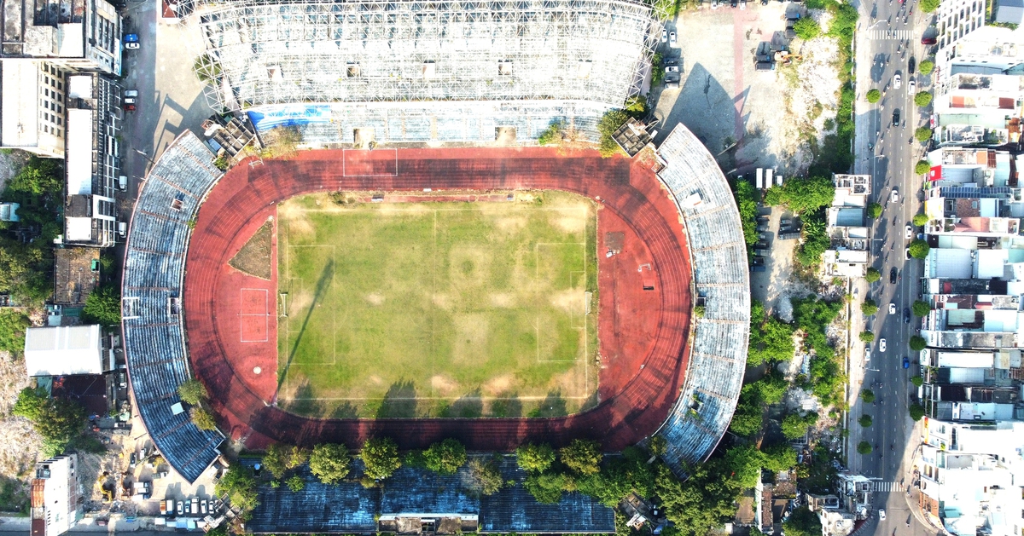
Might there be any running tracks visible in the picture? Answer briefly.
Yes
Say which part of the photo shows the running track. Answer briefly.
center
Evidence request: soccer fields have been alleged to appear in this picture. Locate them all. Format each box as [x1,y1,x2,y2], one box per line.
[277,192,599,420]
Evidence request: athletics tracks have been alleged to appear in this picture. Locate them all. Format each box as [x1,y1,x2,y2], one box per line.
[184,147,692,452]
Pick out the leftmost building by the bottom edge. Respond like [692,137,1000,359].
[34,449,95,536]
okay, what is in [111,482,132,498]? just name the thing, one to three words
work vehicle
